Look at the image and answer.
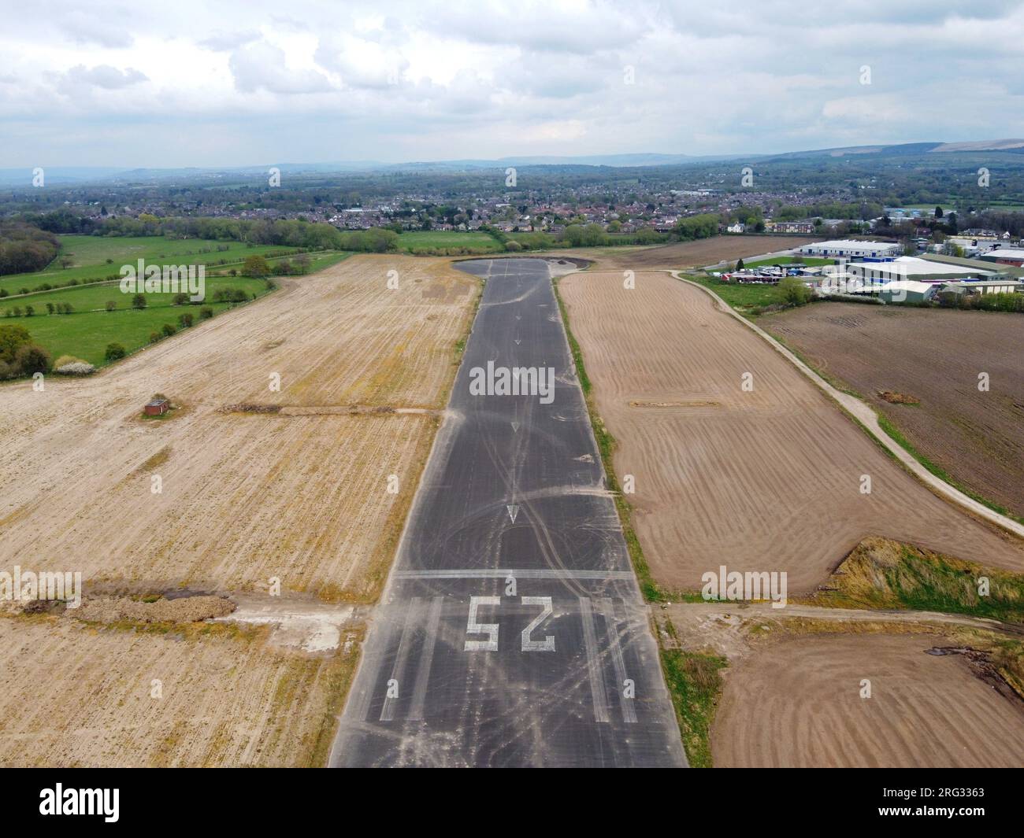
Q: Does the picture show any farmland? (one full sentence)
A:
Yes, there is farmland in the image.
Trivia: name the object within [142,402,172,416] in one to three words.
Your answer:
shed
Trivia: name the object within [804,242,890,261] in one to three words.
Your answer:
building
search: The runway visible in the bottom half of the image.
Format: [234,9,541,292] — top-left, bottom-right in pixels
[308,258,709,838]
